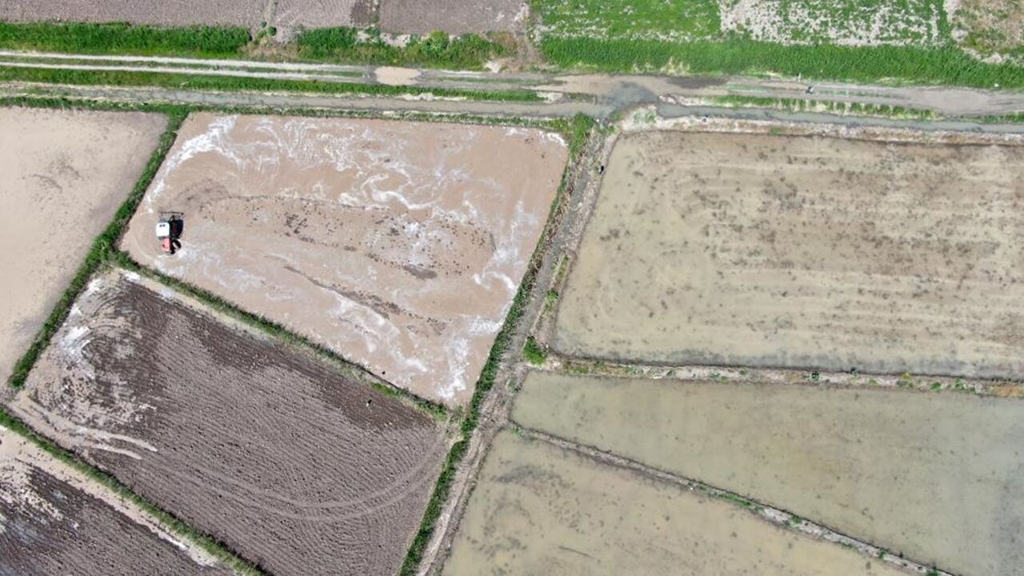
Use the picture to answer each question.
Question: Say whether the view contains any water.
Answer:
Yes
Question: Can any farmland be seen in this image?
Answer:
Yes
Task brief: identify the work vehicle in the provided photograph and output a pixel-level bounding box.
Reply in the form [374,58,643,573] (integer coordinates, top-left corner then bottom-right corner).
[156,222,180,255]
